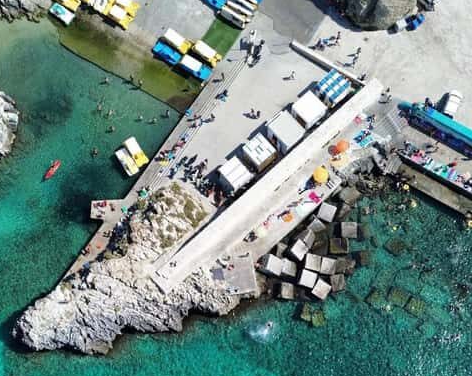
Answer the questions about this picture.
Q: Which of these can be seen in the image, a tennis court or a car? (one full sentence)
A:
Looking from above, you can make out a car.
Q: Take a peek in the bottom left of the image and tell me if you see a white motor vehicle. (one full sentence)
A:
No, looking in the bottom left of the image, there is no white motor vehicle.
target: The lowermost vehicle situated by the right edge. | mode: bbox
[445,90,466,118]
